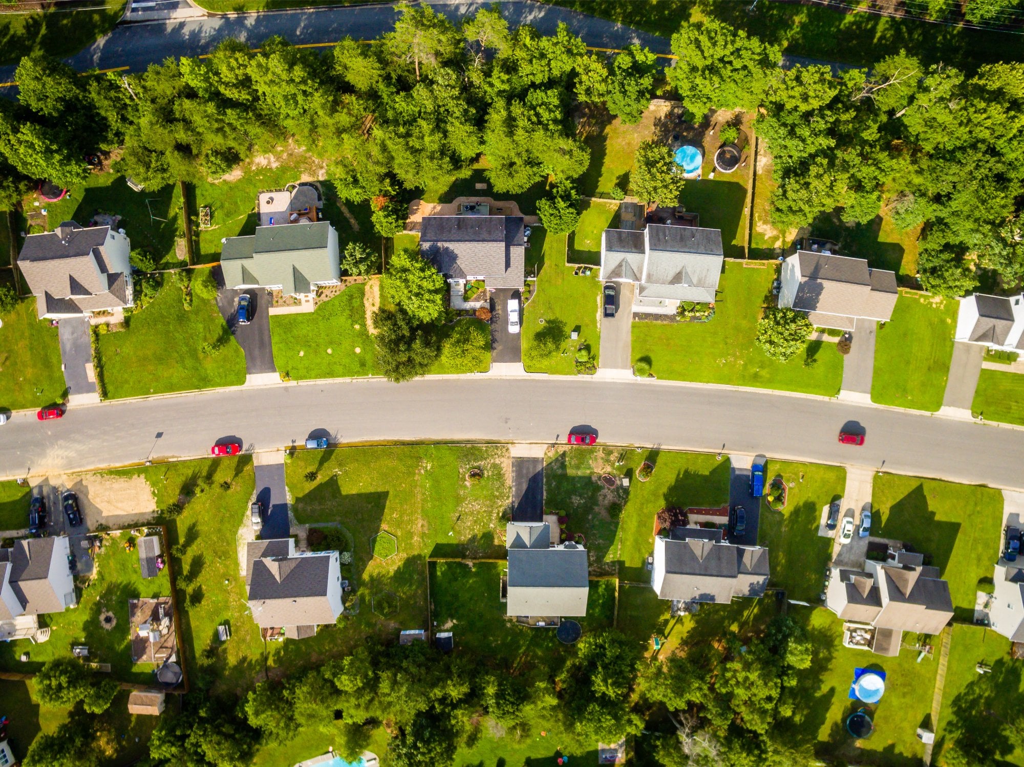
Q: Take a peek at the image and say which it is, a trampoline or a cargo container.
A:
trampoline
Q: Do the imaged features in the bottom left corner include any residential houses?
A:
Yes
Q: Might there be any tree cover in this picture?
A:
Yes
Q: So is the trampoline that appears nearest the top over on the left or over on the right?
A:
right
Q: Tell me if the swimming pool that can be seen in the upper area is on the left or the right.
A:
right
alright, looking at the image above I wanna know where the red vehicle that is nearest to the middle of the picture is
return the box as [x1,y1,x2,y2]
[567,434,597,447]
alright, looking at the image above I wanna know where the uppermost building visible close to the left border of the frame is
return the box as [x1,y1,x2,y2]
[17,221,140,317]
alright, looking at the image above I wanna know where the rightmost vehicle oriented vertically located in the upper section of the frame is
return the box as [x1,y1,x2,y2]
[604,283,616,318]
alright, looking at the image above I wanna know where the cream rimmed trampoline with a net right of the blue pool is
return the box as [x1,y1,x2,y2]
[716,138,747,170]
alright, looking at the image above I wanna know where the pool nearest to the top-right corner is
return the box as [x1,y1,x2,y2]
[676,142,707,175]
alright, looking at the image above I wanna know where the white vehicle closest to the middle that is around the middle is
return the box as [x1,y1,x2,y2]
[507,297,520,333]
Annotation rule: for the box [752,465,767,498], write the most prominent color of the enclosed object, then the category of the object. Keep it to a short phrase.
blue vehicle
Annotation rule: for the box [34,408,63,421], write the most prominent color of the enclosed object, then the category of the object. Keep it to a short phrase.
red vehicle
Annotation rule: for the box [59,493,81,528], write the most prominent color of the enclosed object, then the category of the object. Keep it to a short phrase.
black truck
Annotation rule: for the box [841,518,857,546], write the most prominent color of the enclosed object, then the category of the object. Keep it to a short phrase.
white car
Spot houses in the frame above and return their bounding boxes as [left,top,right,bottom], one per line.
[600,224,724,303]
[826,551,954,657]
[501,519,589,628]
[780,250,898,331]
[0,531,76,619]
[654,527,770,616]
[420,215,524,290]
[954,295,1024,354]
[238,531,340,642]
[17,221,140,317]
[219,221,340,298]
[0,739,14,767]
[984,556,1024,661]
